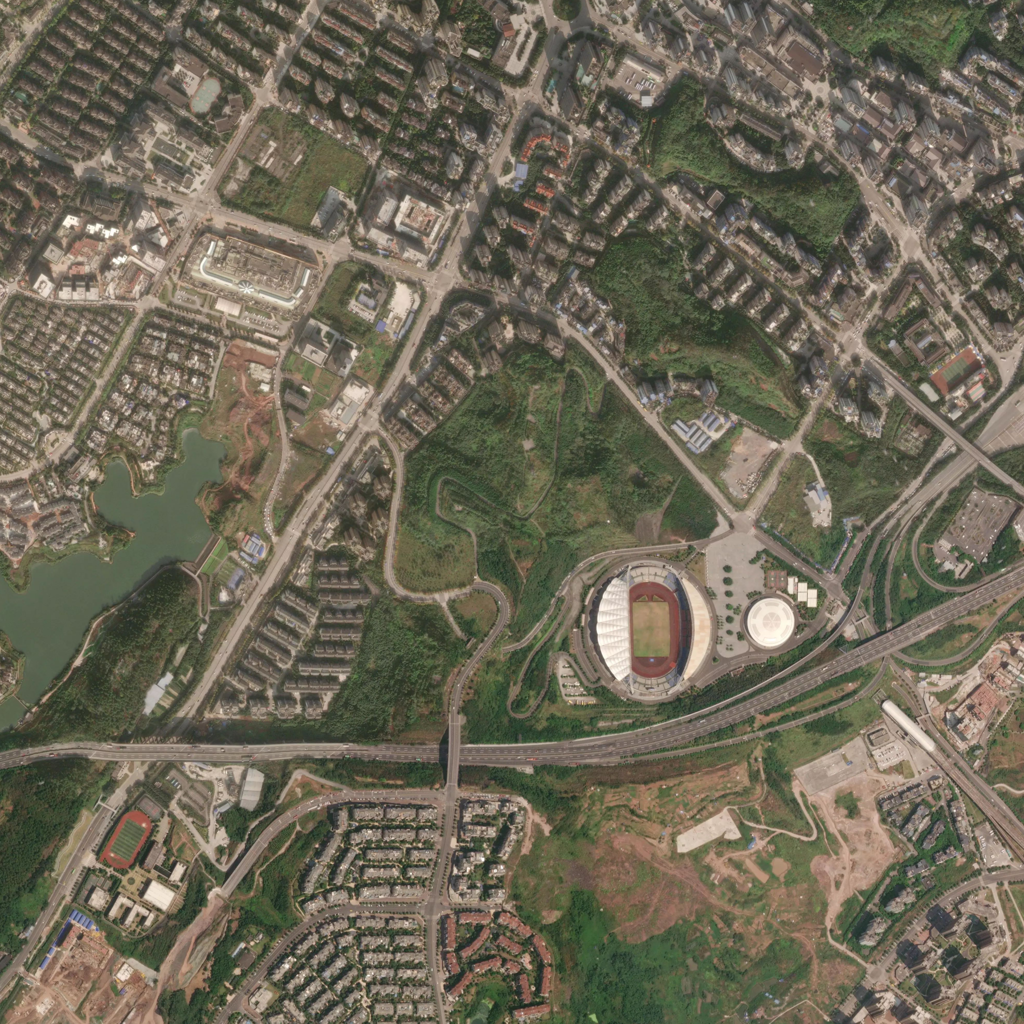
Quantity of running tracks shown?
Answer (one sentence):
The number of running tracks here is 2.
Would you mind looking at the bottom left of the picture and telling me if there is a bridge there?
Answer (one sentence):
Yes, a bridge is visible at the bottom left of the picture.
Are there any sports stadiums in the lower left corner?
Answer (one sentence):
No, in the lower left corner there is no sports stadium.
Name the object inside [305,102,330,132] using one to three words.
building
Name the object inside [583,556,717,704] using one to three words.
stadium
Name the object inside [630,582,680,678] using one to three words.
running track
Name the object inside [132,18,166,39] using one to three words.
house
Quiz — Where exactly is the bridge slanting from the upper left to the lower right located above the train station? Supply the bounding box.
[856,348,1024,502]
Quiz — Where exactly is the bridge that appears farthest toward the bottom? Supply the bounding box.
[220,827,276,897]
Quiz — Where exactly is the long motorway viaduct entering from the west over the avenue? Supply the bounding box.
[0,741,393,770]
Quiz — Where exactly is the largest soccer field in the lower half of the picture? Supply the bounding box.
[633,602,670,657]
